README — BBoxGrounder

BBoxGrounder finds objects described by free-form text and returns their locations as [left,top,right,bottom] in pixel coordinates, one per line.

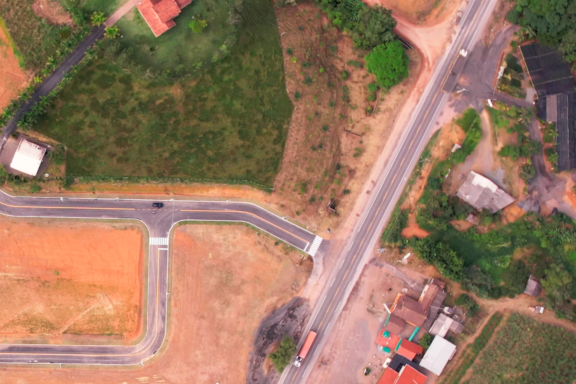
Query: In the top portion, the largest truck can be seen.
[441,50,467,93]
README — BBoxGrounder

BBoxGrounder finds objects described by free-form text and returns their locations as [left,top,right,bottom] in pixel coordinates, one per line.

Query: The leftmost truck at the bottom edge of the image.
[292,330,316,367]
